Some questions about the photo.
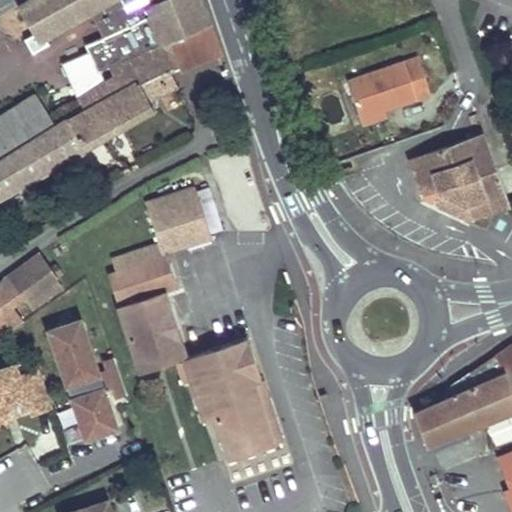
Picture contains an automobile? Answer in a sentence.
Yes, the photo shows an automobile.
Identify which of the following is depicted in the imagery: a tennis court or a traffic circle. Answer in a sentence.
It is a traffic circle that can be seen here.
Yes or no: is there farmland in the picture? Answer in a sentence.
No, there's no farmland in this view.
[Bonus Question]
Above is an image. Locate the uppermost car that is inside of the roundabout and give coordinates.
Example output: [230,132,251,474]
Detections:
[393,268,413,286]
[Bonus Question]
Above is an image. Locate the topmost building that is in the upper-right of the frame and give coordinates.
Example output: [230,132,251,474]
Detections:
[349,55,431,126]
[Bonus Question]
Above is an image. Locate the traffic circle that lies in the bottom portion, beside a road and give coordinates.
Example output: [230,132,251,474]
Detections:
[322,261,444,383]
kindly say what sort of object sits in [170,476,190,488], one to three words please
vehicle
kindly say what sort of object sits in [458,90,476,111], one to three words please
car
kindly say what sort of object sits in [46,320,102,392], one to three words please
house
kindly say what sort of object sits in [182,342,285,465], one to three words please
building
